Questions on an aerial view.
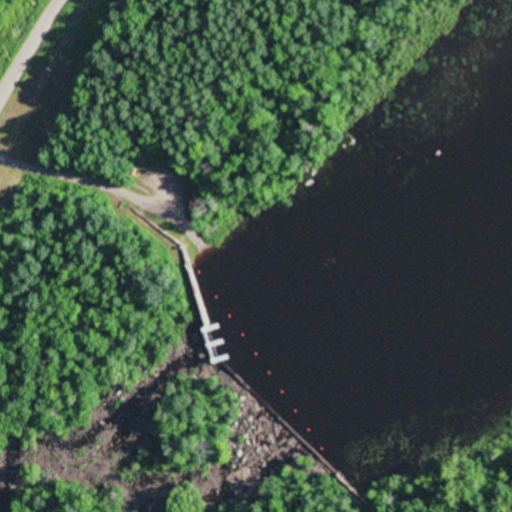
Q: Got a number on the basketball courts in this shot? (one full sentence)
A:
The photo contains no basketball courts.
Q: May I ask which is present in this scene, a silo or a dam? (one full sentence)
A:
Looking from above, you can make out a dam.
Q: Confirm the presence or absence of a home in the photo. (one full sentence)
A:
No, the frame has no home in it.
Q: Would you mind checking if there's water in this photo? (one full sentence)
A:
Yes, there's water in this view.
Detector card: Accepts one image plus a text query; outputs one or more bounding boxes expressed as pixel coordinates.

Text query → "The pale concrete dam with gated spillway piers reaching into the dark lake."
[116,204,230,365]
